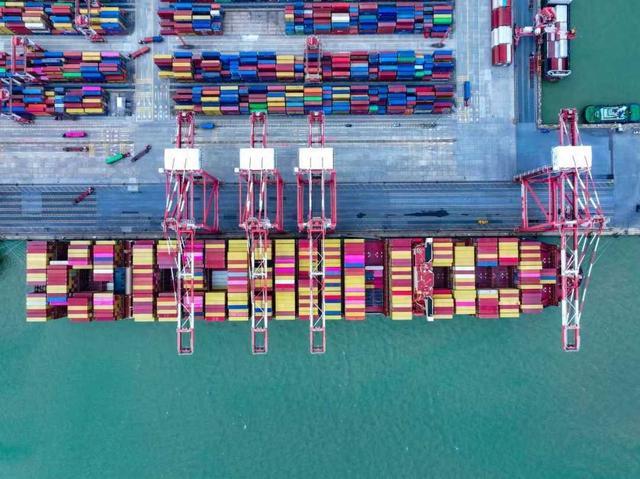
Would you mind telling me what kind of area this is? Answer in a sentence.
The picture captures a port.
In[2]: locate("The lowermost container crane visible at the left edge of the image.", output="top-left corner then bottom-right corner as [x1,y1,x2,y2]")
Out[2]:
[0,71,35,122]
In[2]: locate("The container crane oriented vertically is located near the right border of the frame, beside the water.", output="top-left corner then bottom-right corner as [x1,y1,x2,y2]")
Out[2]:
[510,111,609,356]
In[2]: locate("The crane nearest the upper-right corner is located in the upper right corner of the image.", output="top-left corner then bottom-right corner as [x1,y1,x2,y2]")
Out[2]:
[515,9,576,47]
